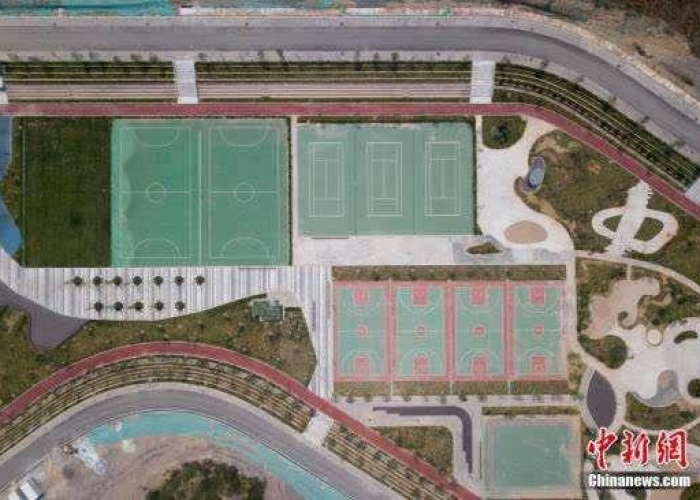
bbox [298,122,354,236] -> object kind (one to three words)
tennis court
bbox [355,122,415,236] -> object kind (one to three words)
tennis court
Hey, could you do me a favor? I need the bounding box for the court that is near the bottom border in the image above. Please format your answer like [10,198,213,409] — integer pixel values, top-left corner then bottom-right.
[483,415,582,498]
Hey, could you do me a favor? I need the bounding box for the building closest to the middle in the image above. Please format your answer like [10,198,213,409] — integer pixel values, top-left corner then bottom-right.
[253,300,284,323]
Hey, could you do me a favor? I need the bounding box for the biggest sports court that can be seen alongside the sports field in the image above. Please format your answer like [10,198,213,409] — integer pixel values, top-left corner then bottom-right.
[111,120,288,267]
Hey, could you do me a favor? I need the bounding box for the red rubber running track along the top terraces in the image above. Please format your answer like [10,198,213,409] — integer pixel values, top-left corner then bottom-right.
[0,103,700,222]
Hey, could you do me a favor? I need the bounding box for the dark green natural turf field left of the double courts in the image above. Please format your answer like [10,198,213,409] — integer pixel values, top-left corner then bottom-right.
[23,120,111,267]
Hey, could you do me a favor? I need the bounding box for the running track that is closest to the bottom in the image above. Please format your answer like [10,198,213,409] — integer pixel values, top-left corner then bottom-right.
[0,341,481,500]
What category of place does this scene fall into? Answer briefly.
sports ground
